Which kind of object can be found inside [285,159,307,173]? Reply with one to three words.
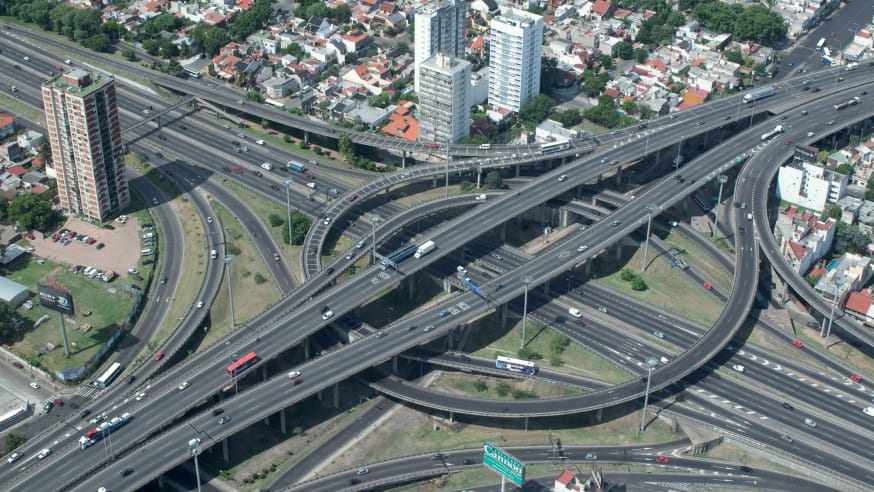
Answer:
vehicle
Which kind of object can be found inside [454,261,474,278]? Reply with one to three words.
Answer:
vehicle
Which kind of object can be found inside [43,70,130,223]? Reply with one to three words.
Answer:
building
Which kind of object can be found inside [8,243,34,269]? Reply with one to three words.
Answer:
shed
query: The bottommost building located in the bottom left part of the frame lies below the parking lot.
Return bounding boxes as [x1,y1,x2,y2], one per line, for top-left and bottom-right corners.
[0,374,44,434]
